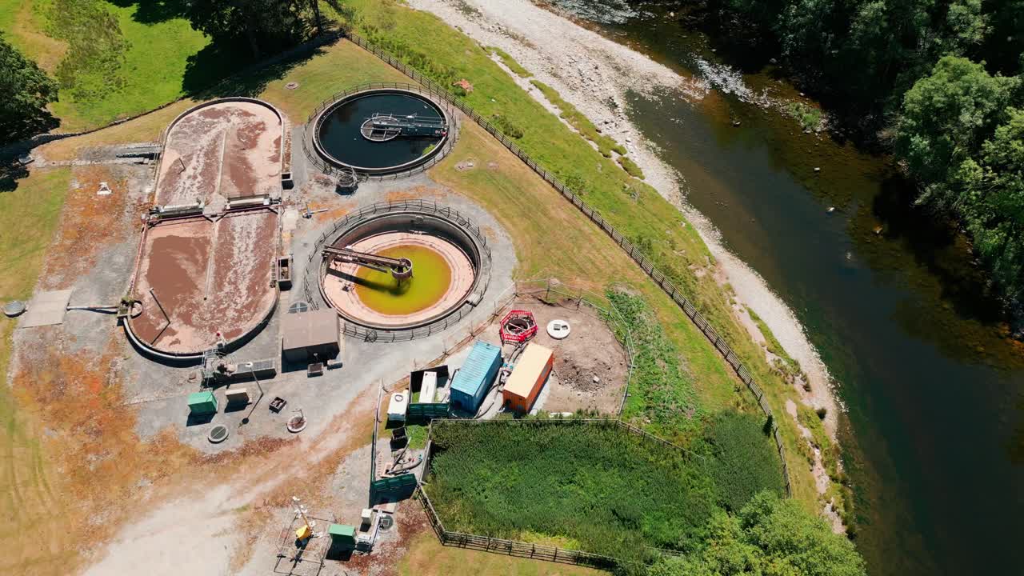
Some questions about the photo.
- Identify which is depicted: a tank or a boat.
tank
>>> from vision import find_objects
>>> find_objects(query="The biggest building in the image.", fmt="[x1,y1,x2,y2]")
[281,309,346,371]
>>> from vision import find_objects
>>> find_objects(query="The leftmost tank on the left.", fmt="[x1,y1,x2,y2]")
[118,98,286,365]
